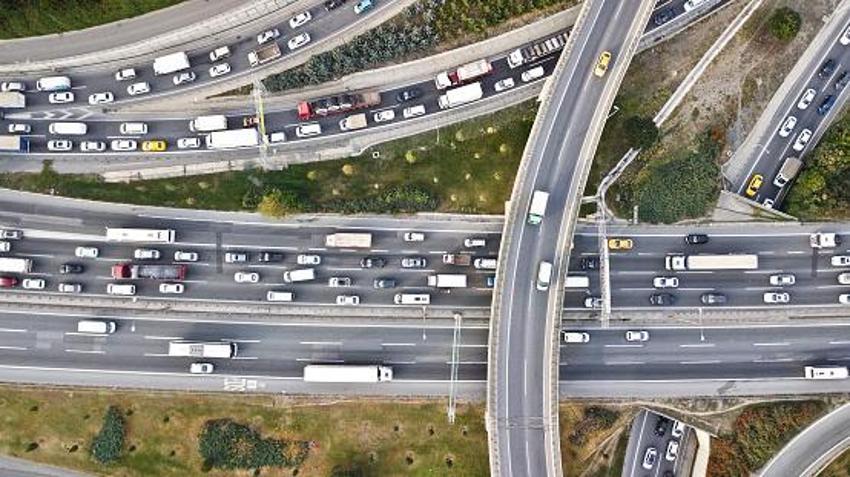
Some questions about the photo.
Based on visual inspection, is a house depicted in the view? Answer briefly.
No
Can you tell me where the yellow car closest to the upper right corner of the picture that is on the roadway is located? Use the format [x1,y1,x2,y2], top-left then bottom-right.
[745,173,764,197]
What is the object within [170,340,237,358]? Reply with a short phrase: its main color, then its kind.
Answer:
white vehicle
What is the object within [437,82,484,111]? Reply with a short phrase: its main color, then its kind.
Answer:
white truck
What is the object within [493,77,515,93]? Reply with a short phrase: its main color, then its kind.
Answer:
white car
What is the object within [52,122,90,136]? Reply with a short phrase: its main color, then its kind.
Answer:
white vehicle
